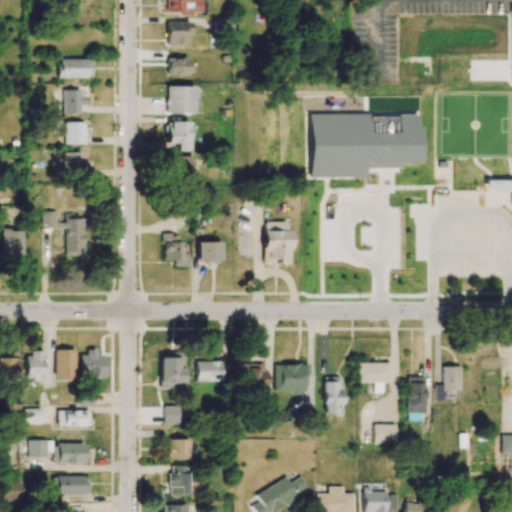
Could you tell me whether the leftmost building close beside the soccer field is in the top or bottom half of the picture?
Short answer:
top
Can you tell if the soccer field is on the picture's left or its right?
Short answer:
right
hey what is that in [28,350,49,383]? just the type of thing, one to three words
house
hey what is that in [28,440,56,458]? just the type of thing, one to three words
building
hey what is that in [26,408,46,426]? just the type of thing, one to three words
building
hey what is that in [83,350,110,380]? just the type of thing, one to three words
house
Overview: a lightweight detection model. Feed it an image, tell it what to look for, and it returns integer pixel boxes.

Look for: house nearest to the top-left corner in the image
[60,58,96,79]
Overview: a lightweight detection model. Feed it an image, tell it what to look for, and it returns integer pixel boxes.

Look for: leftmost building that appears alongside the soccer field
[311,114,430,176]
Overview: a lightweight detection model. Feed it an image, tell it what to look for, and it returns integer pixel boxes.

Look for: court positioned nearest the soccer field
[468,60,512,82]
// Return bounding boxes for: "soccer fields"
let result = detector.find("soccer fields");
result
[438,91,512,158]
